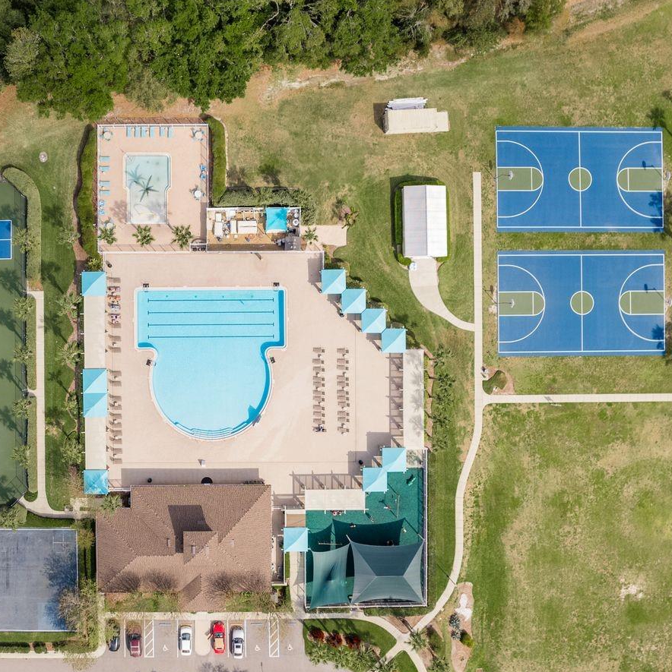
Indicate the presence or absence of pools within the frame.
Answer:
Yes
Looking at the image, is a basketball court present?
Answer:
Yes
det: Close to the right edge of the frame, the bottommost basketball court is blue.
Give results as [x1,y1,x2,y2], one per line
[497,251,665,356]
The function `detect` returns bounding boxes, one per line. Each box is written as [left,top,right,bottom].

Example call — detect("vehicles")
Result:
[230,627,245,661]
[207,622,227,657]
[128,627,142,659]
[179,626,194,658]
[107,625,120,655]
